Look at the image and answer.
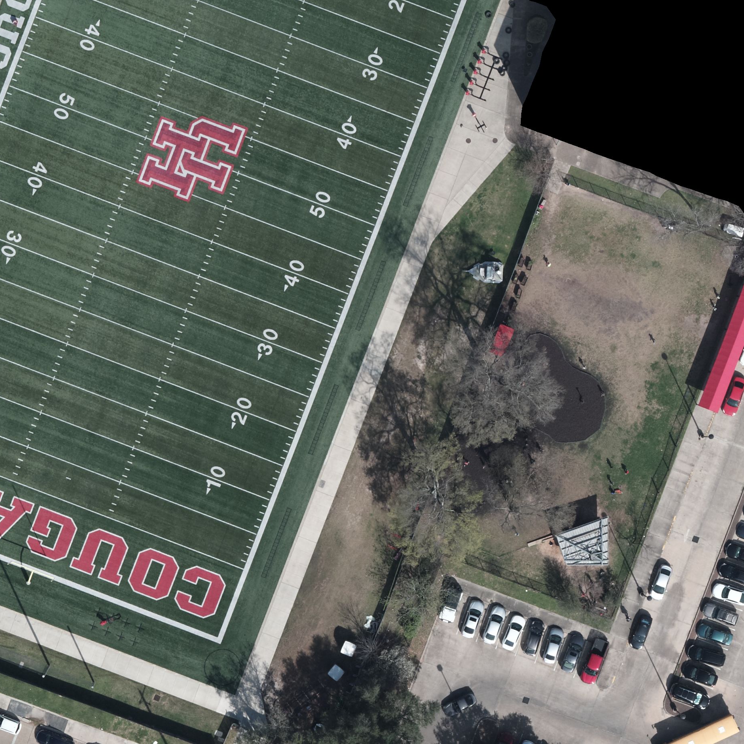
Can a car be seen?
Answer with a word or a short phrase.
Yes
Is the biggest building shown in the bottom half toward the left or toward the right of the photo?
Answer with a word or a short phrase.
right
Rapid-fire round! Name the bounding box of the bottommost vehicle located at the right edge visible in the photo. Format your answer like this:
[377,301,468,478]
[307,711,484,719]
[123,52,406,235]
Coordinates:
[662,710,743,744]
